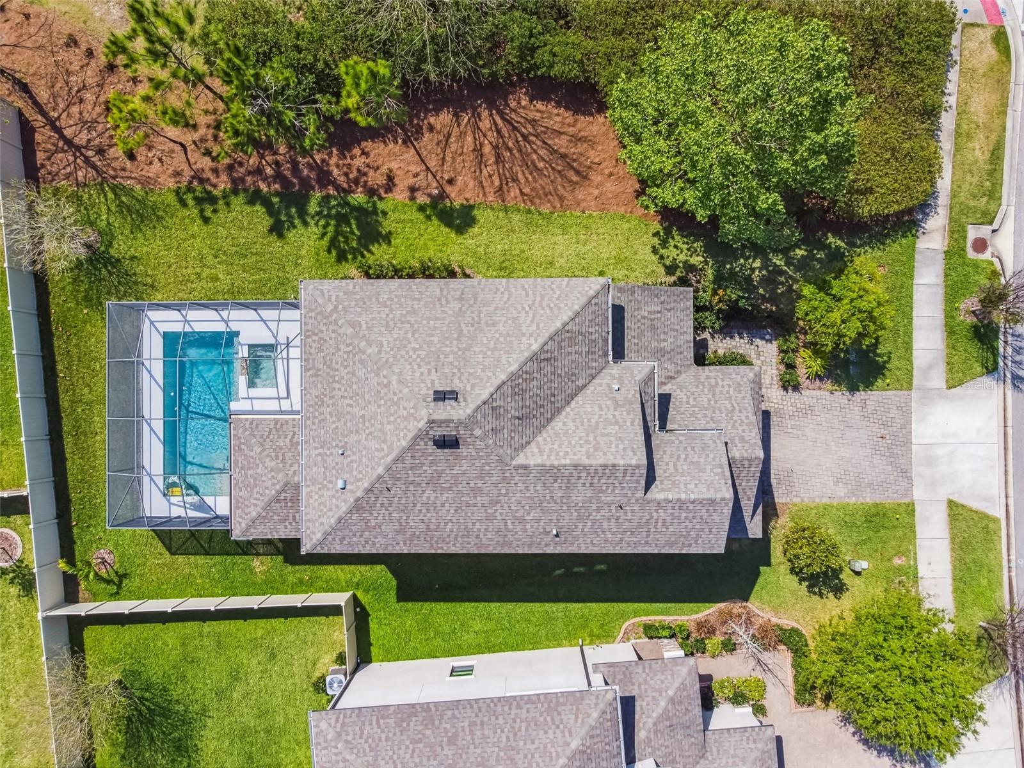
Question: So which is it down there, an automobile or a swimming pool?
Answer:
swimming pool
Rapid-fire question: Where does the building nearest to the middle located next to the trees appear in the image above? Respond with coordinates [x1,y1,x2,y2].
[227,277,763,553]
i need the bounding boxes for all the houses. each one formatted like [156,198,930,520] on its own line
[307,641,778,768]
[227,277,763,553]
